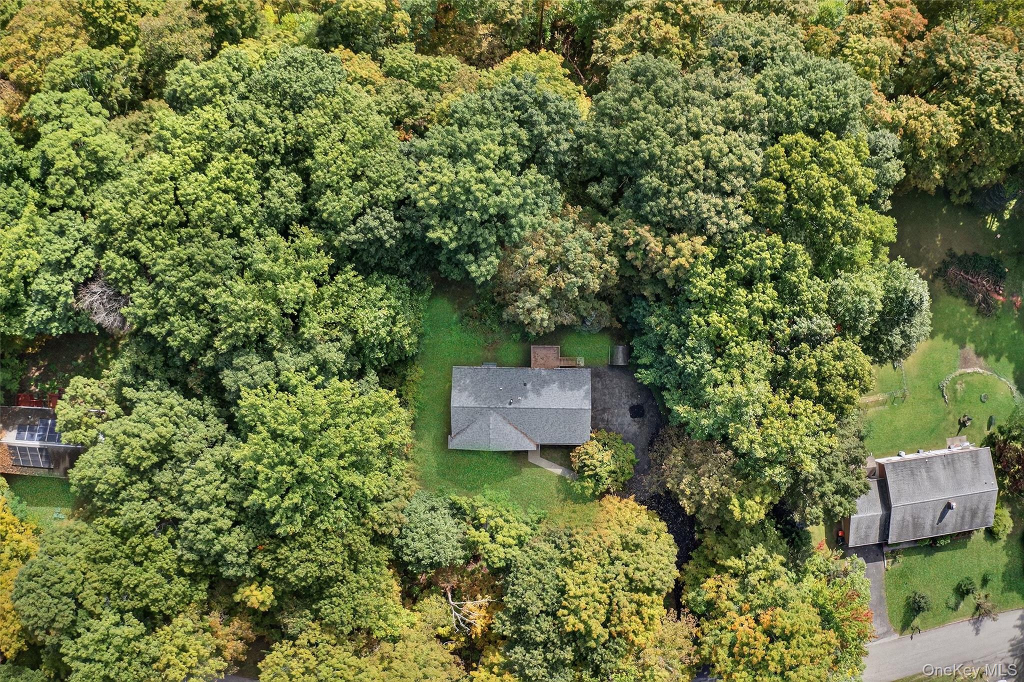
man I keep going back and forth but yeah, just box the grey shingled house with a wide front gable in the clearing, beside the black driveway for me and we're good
[448,363,592,452]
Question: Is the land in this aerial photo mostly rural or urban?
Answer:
rural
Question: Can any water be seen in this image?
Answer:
No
